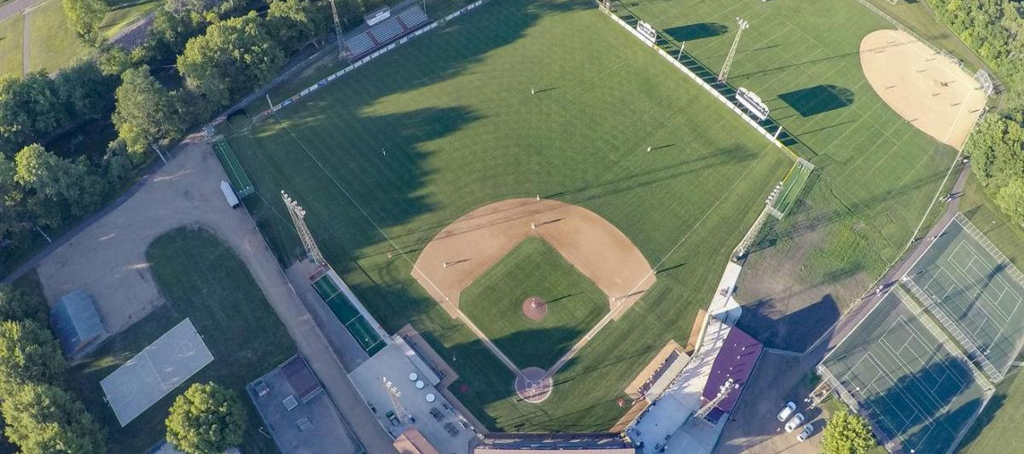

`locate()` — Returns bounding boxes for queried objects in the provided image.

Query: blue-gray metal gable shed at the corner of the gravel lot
[53,290,114,360]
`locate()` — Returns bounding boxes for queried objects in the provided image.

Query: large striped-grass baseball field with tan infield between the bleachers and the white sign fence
[226,0,798,434]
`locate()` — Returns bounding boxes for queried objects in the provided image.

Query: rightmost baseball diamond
[860,29,985,150]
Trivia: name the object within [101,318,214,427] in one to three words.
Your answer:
basketball court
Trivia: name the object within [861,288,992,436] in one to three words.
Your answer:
tennis court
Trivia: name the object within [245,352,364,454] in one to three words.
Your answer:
building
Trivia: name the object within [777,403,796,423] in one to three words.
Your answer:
car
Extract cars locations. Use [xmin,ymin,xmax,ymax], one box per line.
[785,414,804,434]
[797,425,814,444]
[777,403,796,423]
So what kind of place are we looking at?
sports ground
